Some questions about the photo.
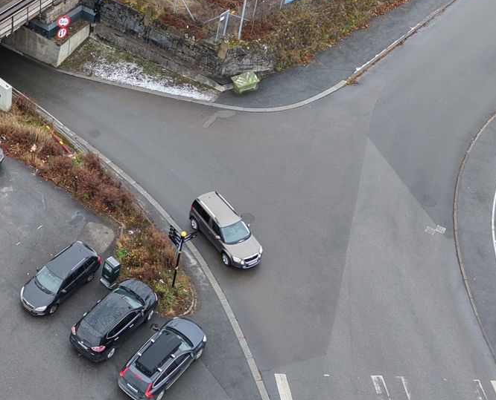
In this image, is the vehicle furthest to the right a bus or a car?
car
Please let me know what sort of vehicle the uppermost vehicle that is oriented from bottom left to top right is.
automobile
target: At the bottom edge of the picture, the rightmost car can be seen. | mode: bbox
[114,314,211,400]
